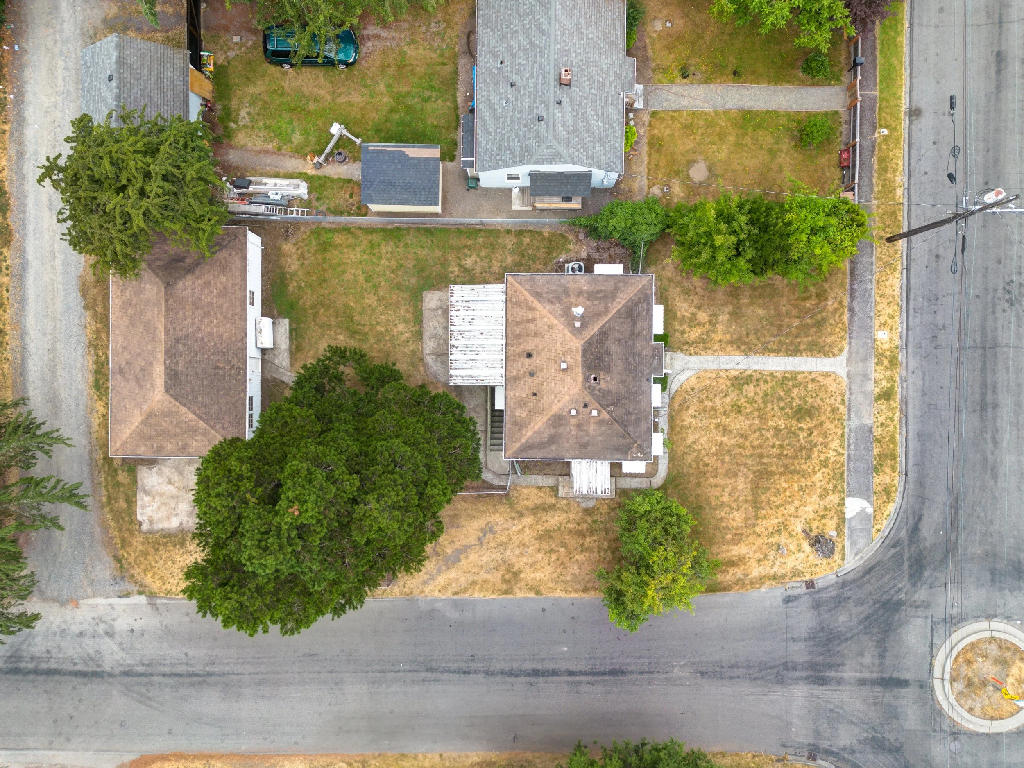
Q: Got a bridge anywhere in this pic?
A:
No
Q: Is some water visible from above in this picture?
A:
No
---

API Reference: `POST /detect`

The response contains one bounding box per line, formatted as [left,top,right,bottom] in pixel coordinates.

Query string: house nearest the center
[448,264,672,495]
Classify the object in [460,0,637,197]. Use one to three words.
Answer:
house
